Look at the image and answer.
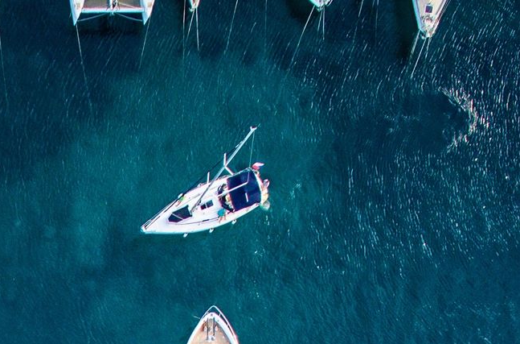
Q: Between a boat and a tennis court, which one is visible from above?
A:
boat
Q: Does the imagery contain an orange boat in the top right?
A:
No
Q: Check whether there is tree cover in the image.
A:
No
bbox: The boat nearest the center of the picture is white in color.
[138,120,269,240]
